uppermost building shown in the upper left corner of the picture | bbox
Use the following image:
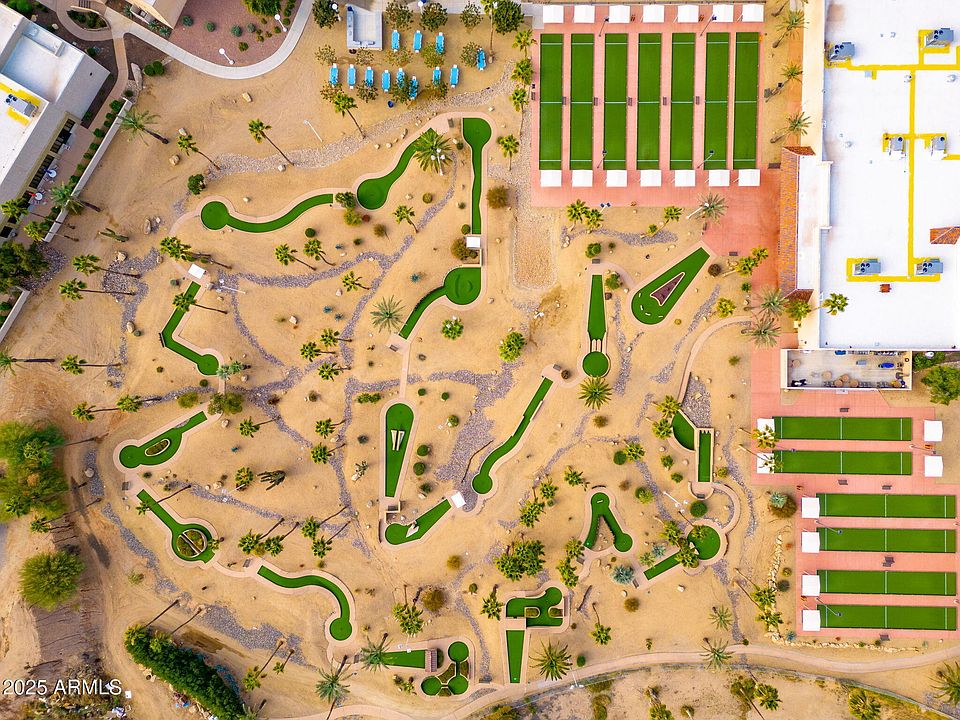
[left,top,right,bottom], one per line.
[123,0,188,35]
